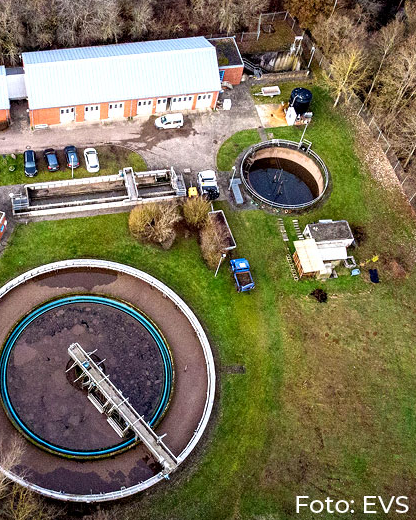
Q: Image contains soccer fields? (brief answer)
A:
No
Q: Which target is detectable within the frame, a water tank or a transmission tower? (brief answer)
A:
water tank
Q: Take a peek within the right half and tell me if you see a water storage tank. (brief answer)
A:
Yes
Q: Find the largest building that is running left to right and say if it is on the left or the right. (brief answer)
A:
left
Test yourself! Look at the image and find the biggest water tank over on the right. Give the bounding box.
[241,137,329,210]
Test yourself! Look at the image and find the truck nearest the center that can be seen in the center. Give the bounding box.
[229,257,256,292]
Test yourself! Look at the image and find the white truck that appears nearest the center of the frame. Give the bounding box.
[195,166,221,201]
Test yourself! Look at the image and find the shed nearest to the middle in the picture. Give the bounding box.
[290,237,330,281]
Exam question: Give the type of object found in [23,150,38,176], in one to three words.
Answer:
car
